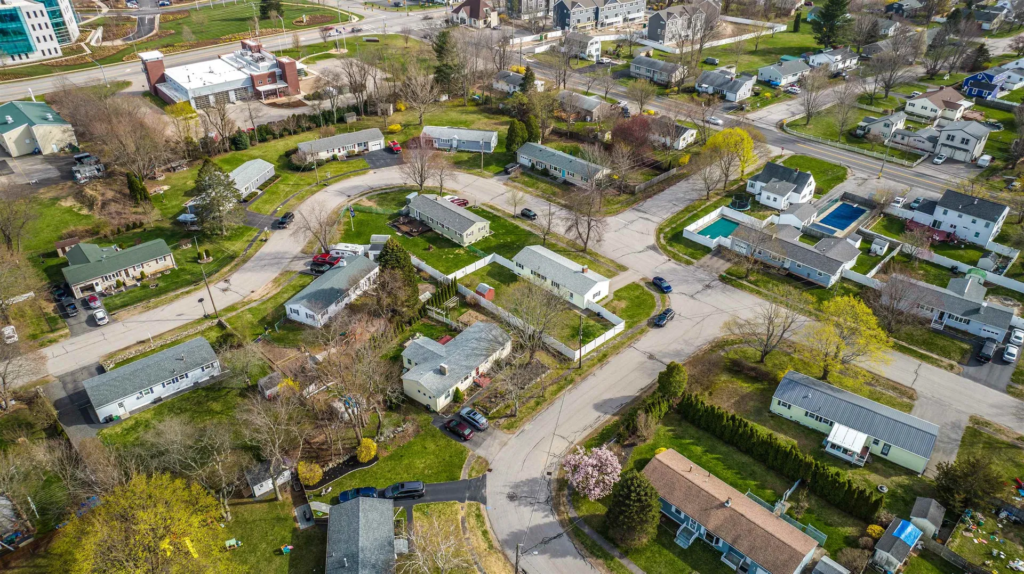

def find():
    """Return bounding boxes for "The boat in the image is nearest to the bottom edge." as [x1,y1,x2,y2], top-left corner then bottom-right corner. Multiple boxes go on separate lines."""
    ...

[302,381,334,399]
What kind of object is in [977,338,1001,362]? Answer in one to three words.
truck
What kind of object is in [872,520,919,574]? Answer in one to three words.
shed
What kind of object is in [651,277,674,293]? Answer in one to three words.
car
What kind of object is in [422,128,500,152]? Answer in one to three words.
house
